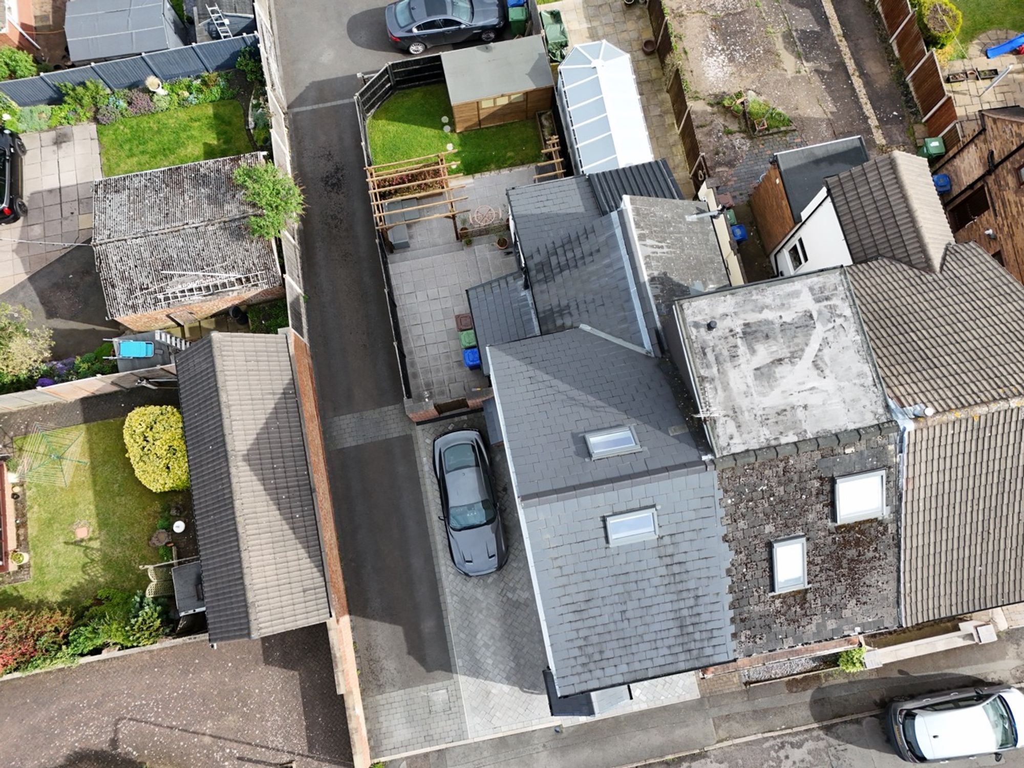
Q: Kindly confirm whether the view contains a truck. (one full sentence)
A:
No, the scene contains no truck.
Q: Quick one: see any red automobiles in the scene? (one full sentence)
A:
No, no red automobile is visible in the scene.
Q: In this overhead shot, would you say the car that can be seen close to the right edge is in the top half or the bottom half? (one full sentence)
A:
It is in the bottom half that the car that can be seen close to the right edge appears.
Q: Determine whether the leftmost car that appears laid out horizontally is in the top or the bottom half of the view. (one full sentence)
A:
You can find the leftmost car that appears laid out horizontally in the top half.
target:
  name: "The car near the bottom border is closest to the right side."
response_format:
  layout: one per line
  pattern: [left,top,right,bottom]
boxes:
[882,678,1024,766]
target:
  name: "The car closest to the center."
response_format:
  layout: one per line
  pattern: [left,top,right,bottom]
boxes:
[433,427,507,578]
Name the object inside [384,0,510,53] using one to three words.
car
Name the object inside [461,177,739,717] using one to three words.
house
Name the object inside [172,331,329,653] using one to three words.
building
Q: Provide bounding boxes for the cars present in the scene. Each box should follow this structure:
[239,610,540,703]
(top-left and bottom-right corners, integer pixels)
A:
[433,427,507,578]
[882,678,1024,766]
[0,125,31,229]
[384,0,510,53]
